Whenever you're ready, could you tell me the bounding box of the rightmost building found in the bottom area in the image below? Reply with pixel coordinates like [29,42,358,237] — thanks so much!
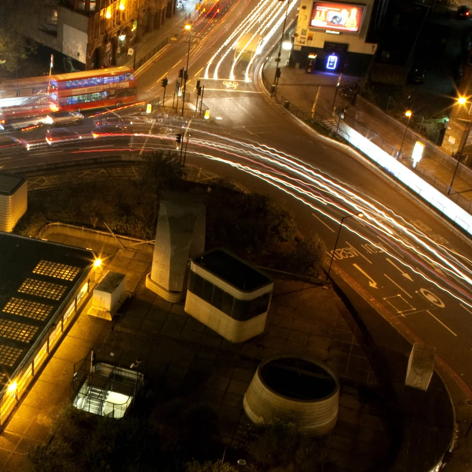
[185,249,273,339]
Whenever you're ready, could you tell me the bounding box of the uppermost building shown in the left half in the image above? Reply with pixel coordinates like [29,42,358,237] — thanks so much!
[30,0,196,69]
